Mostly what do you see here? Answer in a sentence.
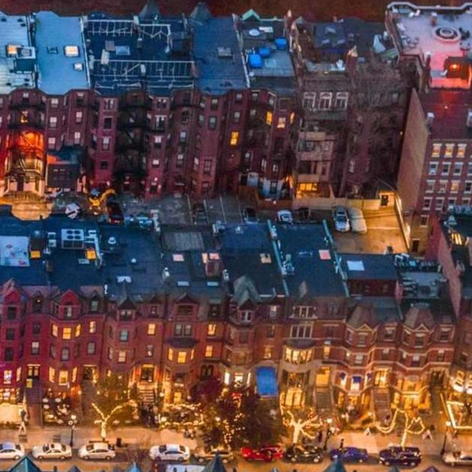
The bulk of the photo consists of buildings.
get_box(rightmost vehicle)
[441,451,472,470]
